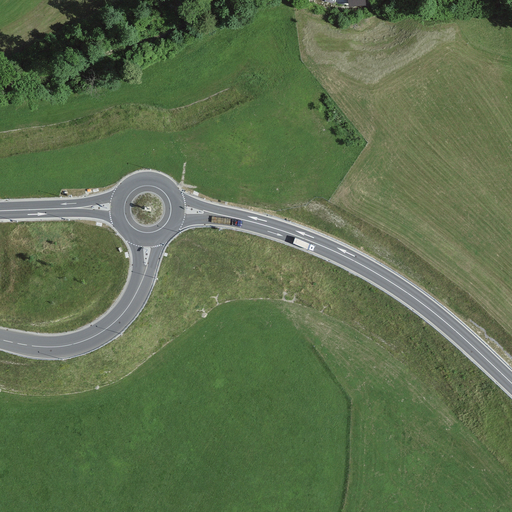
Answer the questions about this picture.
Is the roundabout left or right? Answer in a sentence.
The roundabout is on the left side of the image.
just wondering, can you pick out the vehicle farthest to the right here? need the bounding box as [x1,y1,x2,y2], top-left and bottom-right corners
[292,238,316,251]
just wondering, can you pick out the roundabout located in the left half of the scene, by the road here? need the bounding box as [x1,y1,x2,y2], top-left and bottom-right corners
[110,171,186,247]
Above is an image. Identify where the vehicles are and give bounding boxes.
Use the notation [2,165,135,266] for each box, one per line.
[210,217,242,227]
[292,238,316,251]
